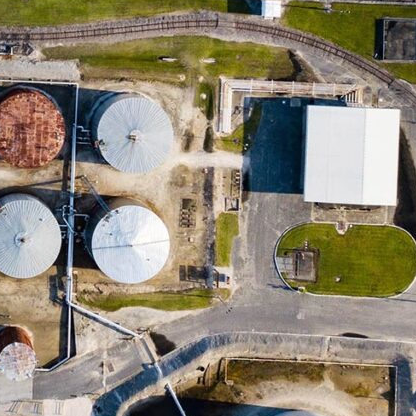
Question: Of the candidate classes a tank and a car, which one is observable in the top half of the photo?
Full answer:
You can see a tank in the top half of the photo.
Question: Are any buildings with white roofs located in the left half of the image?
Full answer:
No, no building with a white roof appears in the left half of the image.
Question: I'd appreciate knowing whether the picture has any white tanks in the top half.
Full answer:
Yes, you'll find a white tank in the top half.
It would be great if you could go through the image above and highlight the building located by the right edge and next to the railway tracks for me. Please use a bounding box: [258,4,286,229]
[299,106,400,206]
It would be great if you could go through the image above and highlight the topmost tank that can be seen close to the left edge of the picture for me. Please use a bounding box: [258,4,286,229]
[0,85,66,167]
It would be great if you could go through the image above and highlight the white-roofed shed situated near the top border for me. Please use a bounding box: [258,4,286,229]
[259,0,281,19]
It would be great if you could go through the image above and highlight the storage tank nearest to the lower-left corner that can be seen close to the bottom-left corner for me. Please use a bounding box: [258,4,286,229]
[0,322,36,380]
